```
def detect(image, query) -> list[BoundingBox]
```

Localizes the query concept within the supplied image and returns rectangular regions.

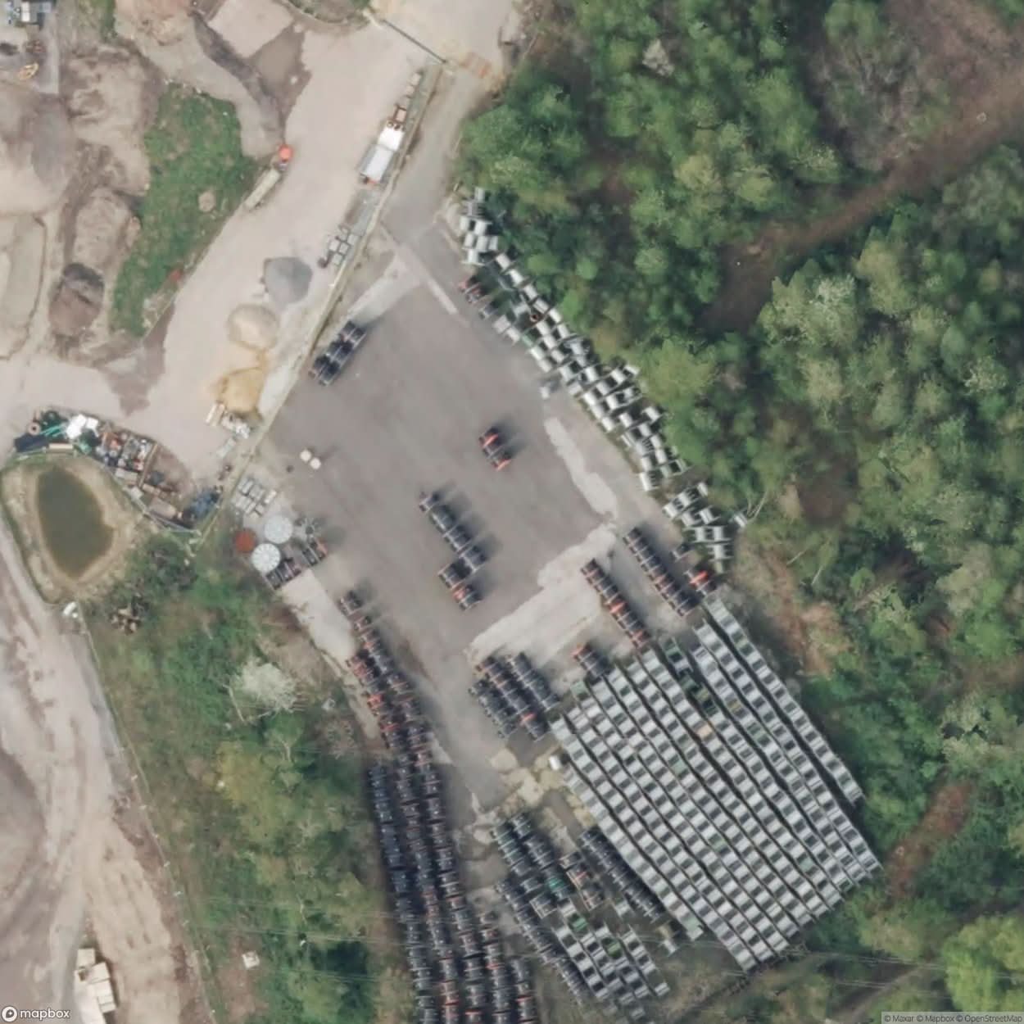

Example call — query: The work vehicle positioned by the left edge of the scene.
[18,63,38,80]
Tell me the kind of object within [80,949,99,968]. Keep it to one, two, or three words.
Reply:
building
